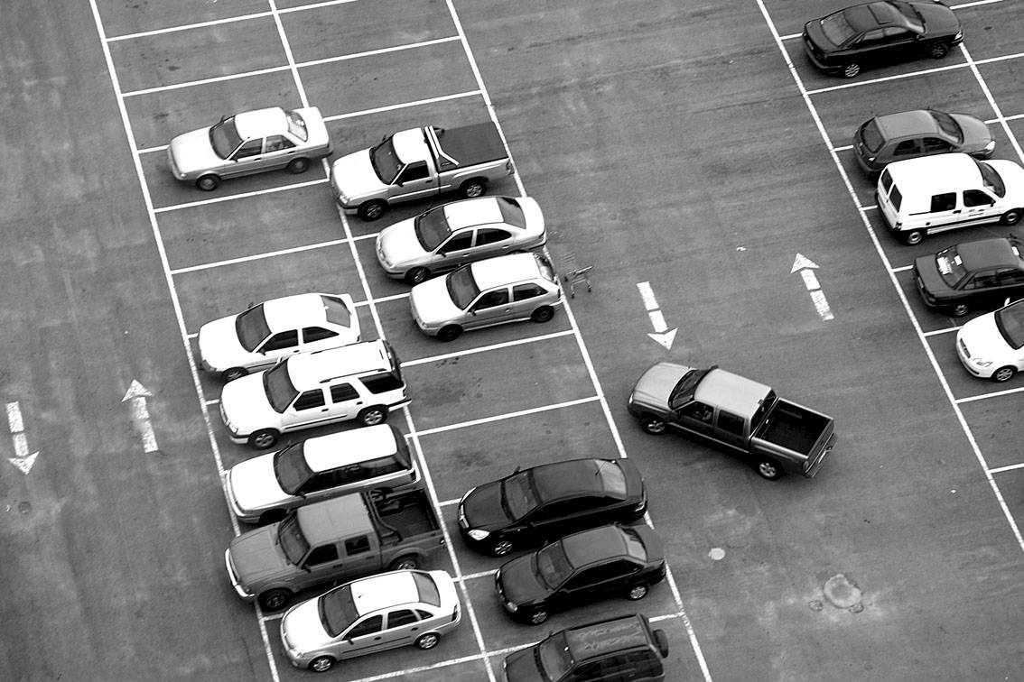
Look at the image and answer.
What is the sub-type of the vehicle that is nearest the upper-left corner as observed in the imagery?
car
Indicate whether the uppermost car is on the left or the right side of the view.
right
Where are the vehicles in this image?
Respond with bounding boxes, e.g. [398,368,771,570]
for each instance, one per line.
[857,103,998,178]
[277,565,461,670]
[874,150,1024,244]
[223,482,449,609]
[802,0,964,77]
[331,120,515,219]
[165,106,331,191]
[498,610,673,682]
[375,192,546,284]
[226,423,420,525]
[408,251,563,341]
[494,520,668,624]
[628,363,838,485]
[912,229,1024,318]
[957,299,1024,381]
[216,336,410,448]
[456,450,647,558]
[197,290,364,381]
